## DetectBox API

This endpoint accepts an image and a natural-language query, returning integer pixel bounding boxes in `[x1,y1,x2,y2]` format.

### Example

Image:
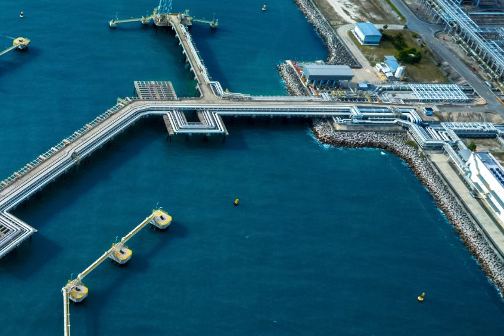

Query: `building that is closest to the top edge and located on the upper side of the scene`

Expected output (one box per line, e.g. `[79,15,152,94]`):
[350,20,384,46]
